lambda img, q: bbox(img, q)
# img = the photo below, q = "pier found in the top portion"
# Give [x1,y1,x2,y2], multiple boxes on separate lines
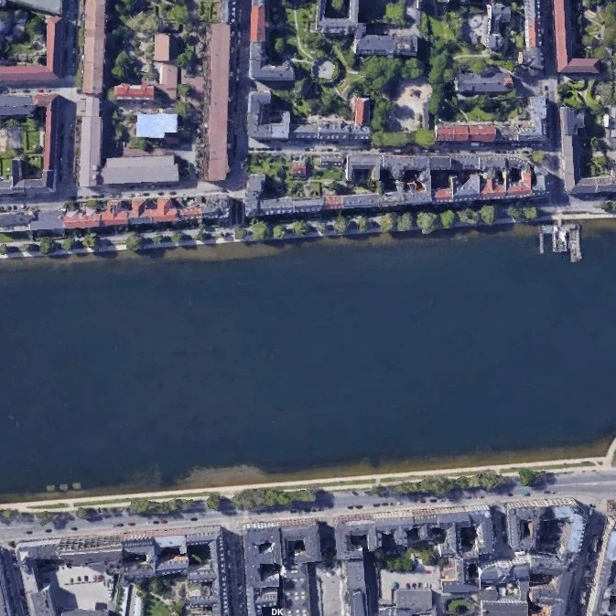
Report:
[539,220,582,262]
